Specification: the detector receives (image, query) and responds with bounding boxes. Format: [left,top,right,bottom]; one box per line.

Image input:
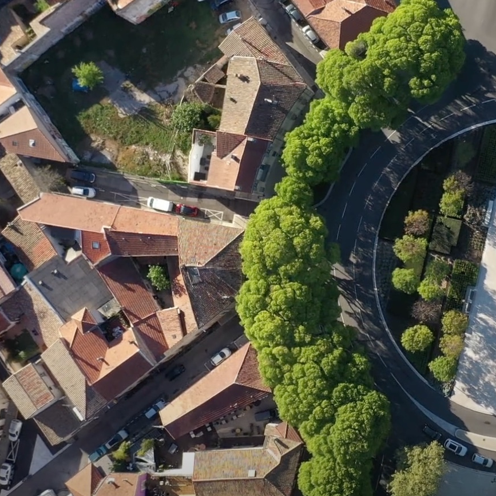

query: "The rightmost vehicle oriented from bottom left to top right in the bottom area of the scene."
[209,347,233,365]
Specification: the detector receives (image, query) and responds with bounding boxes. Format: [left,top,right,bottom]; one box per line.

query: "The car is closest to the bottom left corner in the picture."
[0,461,15,487]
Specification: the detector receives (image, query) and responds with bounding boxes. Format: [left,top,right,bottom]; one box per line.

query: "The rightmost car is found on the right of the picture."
[471,453,493,468]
